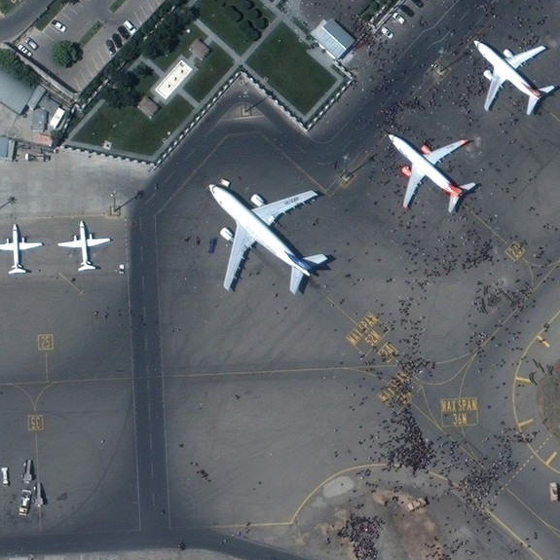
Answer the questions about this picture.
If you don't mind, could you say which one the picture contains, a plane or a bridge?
plane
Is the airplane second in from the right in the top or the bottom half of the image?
top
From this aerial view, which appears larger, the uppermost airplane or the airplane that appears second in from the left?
the uppermost airplane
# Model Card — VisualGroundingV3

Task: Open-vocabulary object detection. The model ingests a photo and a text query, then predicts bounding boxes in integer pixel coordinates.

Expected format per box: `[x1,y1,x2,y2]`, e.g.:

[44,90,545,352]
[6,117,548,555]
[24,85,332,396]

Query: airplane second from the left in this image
[58,222,110,269]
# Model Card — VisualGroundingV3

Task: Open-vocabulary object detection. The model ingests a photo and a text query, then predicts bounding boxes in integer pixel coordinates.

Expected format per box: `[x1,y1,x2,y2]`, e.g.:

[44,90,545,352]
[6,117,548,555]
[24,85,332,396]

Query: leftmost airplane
[0,225,42,272]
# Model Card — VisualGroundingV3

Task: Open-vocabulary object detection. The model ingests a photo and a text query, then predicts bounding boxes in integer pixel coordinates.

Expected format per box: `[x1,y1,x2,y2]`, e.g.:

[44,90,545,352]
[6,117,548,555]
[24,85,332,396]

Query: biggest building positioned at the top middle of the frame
[313,19,356,61]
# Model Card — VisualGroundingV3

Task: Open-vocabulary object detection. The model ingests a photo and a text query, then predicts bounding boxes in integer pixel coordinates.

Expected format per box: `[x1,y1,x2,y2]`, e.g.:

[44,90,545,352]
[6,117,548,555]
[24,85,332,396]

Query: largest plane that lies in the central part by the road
[209,185,325,291]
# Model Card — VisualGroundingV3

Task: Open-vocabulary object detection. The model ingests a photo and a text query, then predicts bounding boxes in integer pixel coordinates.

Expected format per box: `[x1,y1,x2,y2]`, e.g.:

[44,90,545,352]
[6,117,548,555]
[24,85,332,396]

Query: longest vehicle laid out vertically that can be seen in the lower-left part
[18,489,30,517]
